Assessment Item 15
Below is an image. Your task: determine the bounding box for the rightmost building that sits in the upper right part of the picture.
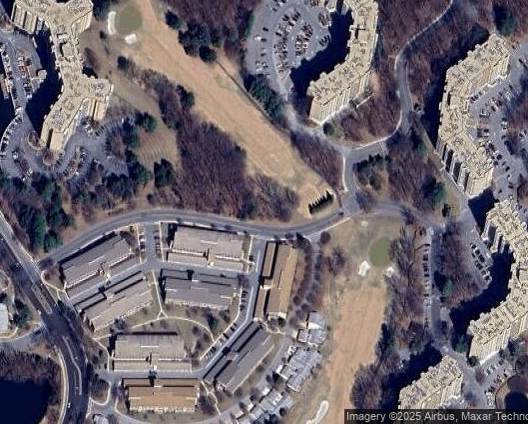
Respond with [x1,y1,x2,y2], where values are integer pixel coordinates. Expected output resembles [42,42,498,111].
[435,33,511,197]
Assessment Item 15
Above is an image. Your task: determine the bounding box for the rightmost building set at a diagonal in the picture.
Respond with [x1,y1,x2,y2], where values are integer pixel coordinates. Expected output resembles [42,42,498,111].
[391,355,463,424]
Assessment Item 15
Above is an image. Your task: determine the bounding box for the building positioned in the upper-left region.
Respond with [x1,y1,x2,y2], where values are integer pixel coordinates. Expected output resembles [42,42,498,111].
[11,0,111,155]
